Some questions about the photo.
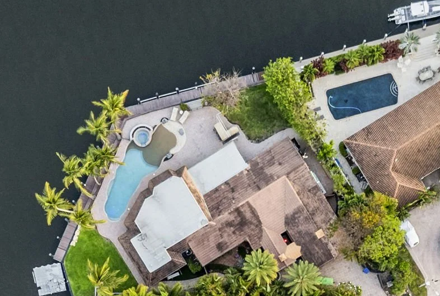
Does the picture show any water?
Yes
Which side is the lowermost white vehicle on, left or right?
right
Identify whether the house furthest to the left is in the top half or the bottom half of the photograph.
bottom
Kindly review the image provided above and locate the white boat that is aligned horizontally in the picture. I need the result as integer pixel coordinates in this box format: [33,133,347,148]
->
[385,0,440,26]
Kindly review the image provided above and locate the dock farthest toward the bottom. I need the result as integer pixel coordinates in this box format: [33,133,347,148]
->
[35,263,68,296]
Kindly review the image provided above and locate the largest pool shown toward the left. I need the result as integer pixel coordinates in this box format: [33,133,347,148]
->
[103,121,179,224]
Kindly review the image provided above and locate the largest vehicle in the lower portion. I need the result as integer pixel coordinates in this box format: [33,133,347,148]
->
[402,219,424,248]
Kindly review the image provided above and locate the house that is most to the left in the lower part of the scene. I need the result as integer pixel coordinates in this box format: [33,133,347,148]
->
[118,136,338,288]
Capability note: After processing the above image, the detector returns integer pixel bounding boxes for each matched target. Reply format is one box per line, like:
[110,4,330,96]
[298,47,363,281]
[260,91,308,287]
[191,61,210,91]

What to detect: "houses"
[343,80,440,205]
[118,136,338,288]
